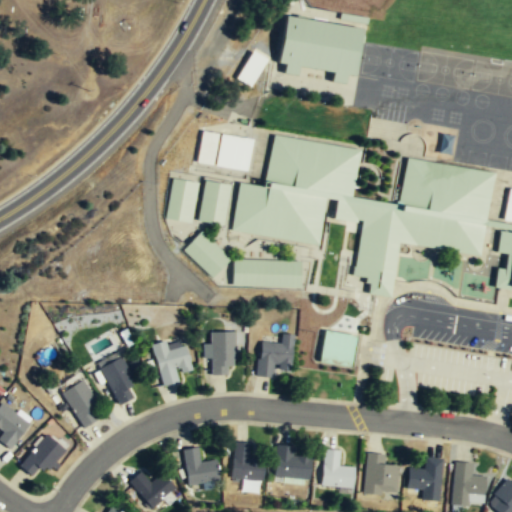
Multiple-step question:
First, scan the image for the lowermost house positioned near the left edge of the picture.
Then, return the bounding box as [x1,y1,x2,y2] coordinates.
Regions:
[20,436,66,476]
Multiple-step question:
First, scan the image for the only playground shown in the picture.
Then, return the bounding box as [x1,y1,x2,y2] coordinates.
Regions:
[398,257,496,302]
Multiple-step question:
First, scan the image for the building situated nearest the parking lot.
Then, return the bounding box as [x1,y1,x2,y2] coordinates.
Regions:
[322,330,359,368]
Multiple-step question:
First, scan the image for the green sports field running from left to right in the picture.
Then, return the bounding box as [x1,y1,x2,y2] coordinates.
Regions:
[364,0,512,60]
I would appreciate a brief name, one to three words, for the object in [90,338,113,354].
swimming pool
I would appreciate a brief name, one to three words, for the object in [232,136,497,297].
building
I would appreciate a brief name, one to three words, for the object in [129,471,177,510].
house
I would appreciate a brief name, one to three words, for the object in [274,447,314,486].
house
